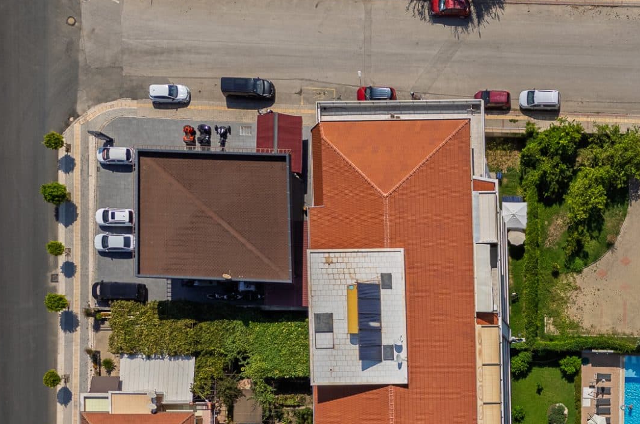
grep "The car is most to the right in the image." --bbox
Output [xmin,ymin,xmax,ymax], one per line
[520,88,560,111]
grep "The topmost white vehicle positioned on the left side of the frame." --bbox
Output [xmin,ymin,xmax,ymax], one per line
[150,81,192,104]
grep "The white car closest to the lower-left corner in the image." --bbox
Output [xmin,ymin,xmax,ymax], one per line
[95,232,136,253]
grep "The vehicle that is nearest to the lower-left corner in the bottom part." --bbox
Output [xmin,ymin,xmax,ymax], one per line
[94,280,147,303]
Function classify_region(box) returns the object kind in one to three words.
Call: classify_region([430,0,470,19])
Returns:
car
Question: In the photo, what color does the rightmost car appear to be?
white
